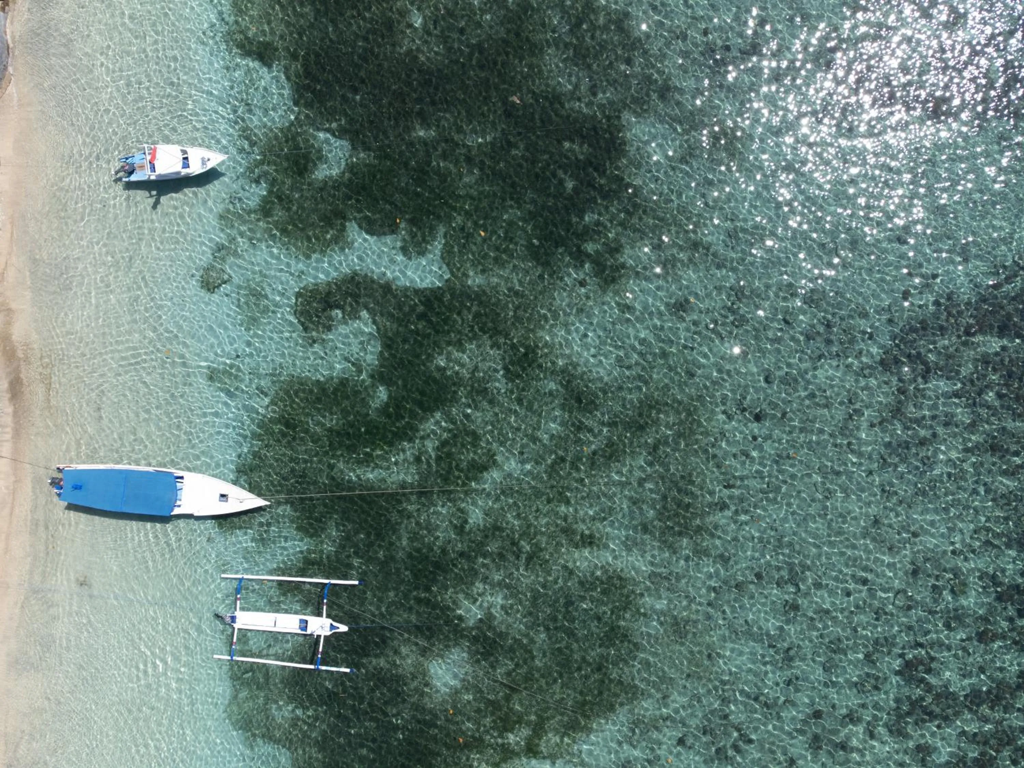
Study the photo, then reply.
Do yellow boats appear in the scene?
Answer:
No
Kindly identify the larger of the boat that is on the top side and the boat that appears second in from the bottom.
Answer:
the boat that appears second in from the bottom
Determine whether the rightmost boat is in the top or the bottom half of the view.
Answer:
bottom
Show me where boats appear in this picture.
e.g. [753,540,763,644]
[111,144,228,180]
[213,574,364,672]
[52,464,270,516]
